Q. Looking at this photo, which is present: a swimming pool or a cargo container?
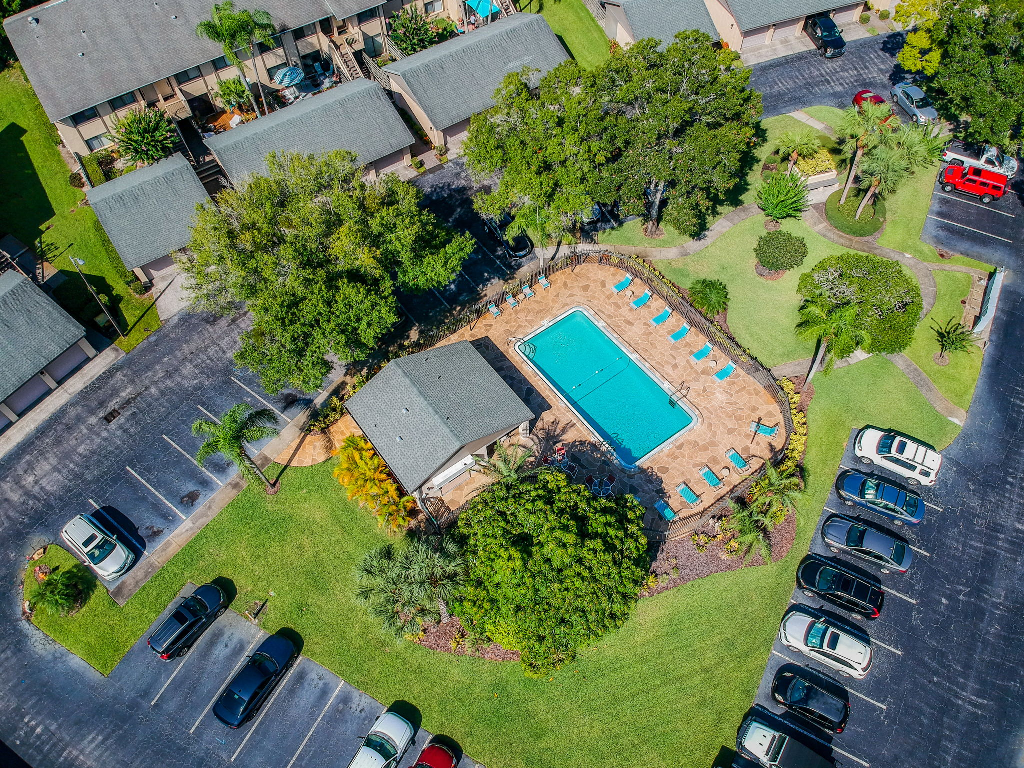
swimming pool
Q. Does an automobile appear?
Yes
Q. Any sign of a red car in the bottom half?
Yes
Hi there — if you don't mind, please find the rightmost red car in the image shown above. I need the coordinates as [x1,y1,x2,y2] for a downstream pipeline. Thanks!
[939,166,1010,204]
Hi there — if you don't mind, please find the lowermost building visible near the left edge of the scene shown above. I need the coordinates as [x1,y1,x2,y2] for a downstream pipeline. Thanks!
[0,273,96,424]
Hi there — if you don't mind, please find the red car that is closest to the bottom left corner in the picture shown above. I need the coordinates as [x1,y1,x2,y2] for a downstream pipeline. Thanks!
[404,739,457,768]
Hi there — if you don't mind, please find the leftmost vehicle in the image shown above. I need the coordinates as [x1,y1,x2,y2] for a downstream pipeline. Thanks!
[67,518,137,583]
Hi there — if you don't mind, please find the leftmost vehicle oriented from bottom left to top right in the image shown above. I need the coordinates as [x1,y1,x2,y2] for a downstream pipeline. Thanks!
[148,583,233,666]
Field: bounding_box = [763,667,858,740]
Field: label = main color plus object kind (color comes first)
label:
black car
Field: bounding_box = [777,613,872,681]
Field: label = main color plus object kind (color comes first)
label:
white car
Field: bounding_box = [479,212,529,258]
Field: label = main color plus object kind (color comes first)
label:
black car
